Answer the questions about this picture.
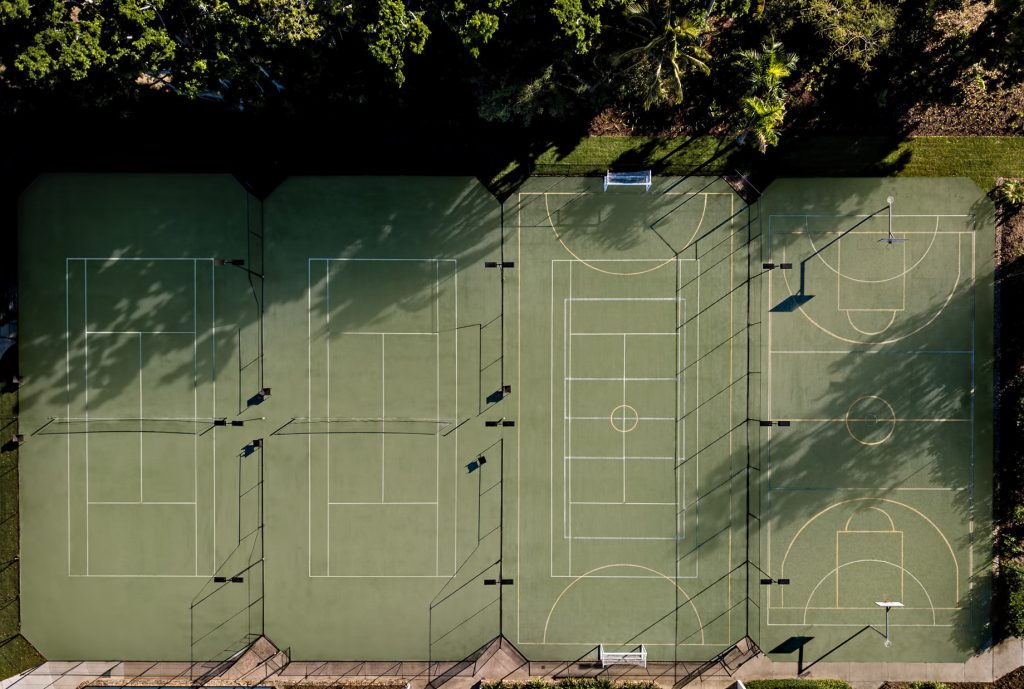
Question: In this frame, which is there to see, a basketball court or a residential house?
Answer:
basketball court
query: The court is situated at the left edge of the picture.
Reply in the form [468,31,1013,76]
[19,174,263,660]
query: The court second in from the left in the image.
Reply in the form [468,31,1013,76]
[263,177,502,660]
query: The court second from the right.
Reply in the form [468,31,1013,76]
[502,177,748,659]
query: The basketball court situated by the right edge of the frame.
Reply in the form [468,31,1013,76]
[749,178,997,662]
